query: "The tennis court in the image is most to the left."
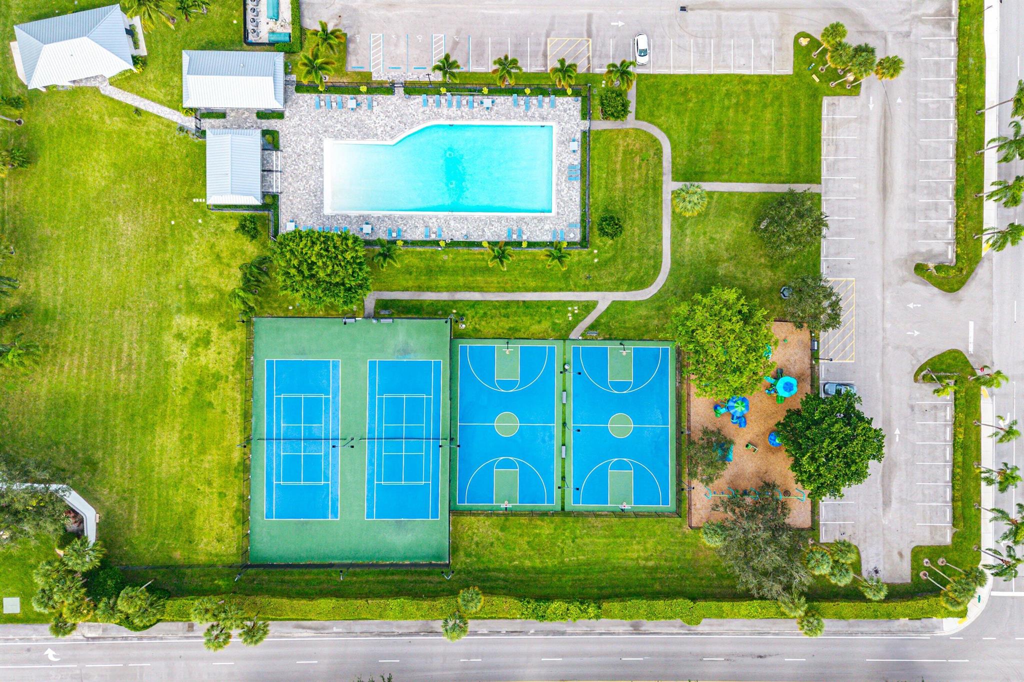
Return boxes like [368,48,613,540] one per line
[250,318,353,563]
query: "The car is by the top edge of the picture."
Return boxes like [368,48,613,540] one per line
[634,33,650,65]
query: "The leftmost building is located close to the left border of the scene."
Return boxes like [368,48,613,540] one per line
[13,4,140,91]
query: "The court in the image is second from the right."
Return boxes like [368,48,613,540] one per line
[451,340,563,511]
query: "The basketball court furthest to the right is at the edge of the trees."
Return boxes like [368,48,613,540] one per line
[566,340,676,512]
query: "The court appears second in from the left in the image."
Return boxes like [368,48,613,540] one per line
[351,319,448,564]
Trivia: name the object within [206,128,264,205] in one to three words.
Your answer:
building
